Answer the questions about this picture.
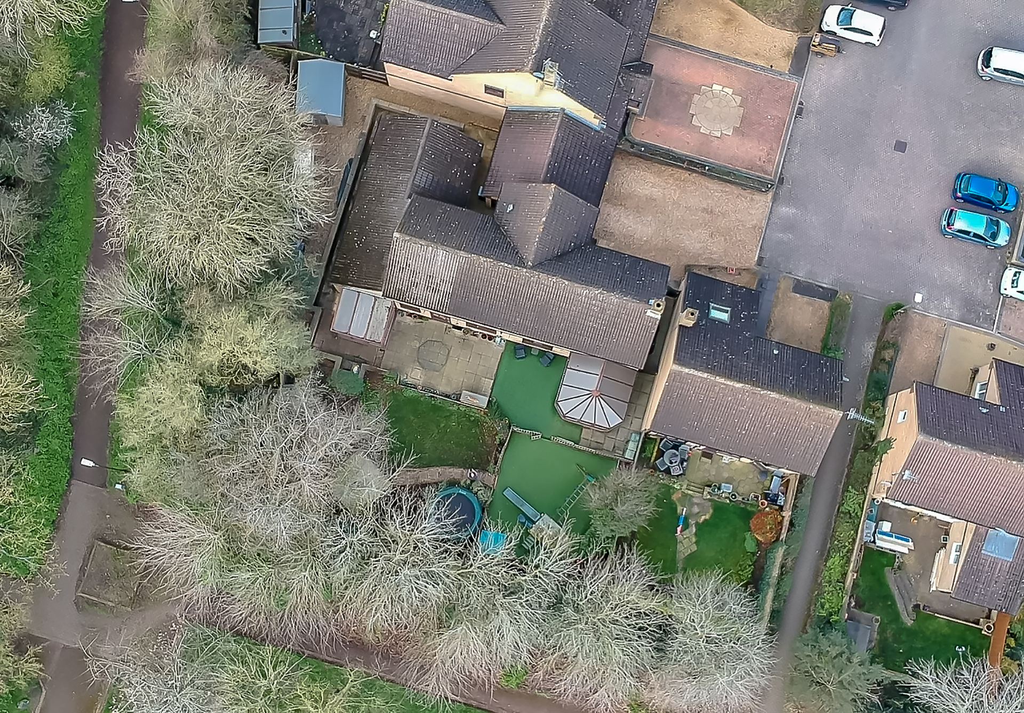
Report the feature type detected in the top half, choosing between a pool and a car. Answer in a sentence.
You can see a car in the top half.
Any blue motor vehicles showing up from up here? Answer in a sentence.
Yes, the picture does show a blue motor vehicle.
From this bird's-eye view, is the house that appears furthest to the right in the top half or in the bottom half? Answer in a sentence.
You can find the house that appears furthest to the right in the bottom half.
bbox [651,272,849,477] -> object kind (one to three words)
house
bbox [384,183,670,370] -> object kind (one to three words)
house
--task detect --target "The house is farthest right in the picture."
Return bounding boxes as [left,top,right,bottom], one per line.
[872,355,1024,611]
